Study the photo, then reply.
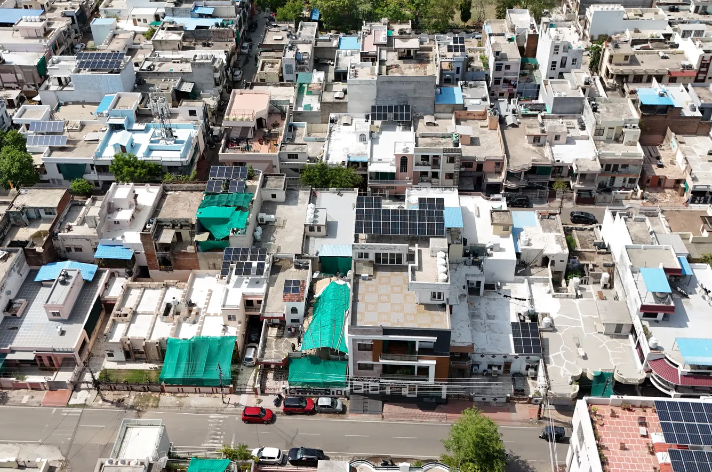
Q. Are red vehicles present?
Yes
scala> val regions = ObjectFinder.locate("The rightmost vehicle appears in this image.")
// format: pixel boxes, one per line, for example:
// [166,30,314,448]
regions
[570,209,598,225]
